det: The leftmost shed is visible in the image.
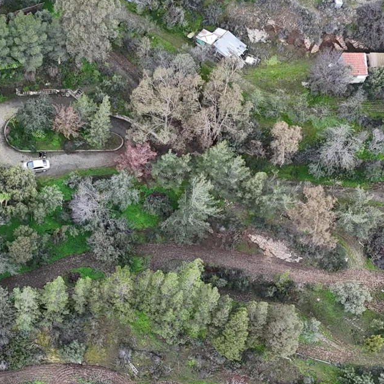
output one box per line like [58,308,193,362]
[195,28,246,64]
